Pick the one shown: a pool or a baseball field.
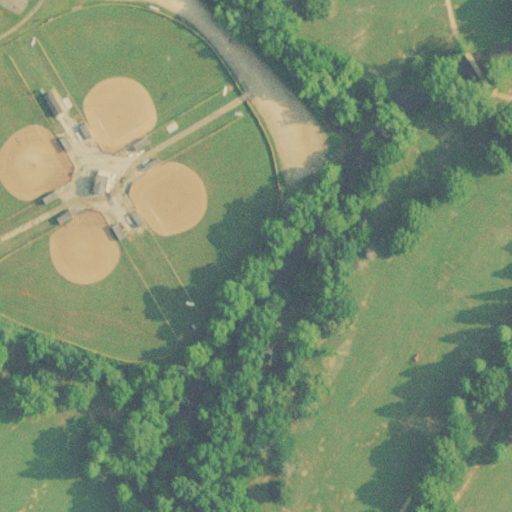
baseball field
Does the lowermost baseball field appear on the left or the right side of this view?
left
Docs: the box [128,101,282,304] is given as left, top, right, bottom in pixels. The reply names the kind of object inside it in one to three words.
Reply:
baseball field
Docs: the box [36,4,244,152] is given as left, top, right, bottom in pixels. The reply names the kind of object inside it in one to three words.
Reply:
baseball field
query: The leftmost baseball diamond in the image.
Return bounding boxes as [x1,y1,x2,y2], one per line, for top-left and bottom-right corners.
[0,54,76,223]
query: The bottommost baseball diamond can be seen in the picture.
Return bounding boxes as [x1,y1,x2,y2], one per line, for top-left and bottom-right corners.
[0,208,182,363]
